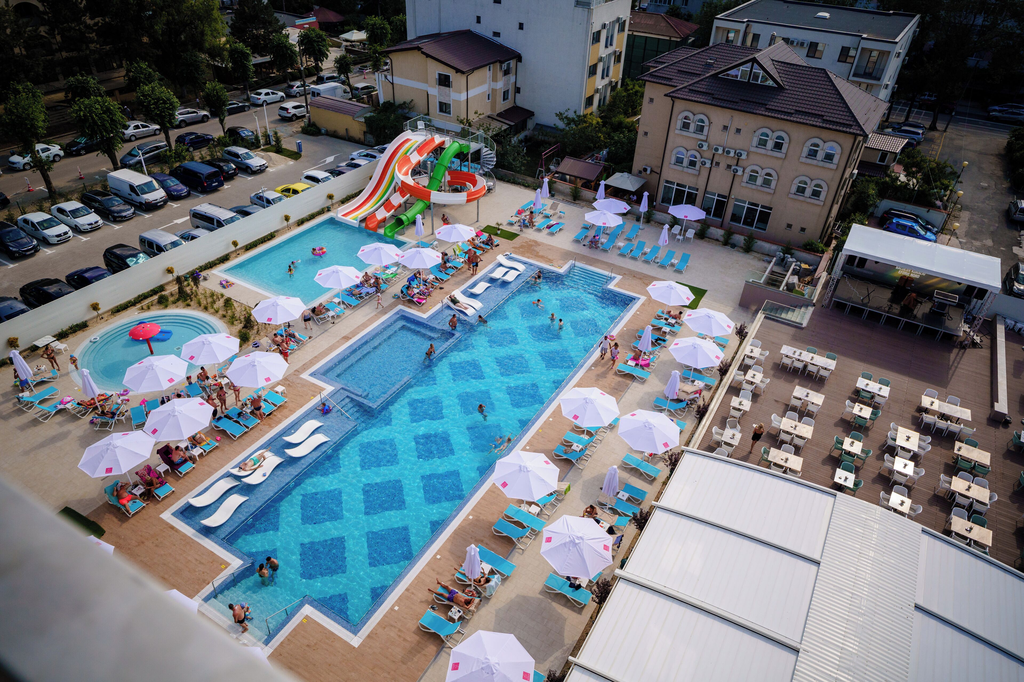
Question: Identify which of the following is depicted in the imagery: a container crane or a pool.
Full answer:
The image shows a pool.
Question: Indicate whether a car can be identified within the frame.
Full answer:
Yes, a car is visible in the scene.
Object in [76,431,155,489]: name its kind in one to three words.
umbrella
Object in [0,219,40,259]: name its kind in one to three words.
car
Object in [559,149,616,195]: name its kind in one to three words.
shed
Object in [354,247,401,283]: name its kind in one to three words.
umbrella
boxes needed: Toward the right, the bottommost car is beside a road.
[1001,262,1024,296]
